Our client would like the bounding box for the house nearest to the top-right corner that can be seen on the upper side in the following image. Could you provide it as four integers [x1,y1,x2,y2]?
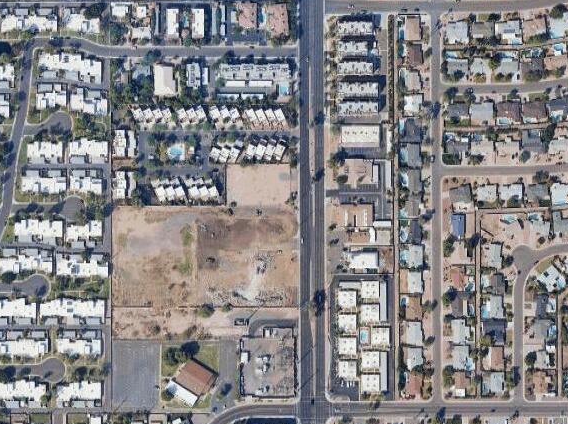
[549,13,568,37]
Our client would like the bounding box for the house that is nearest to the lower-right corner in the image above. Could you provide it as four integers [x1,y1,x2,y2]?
[534,372,552,395]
